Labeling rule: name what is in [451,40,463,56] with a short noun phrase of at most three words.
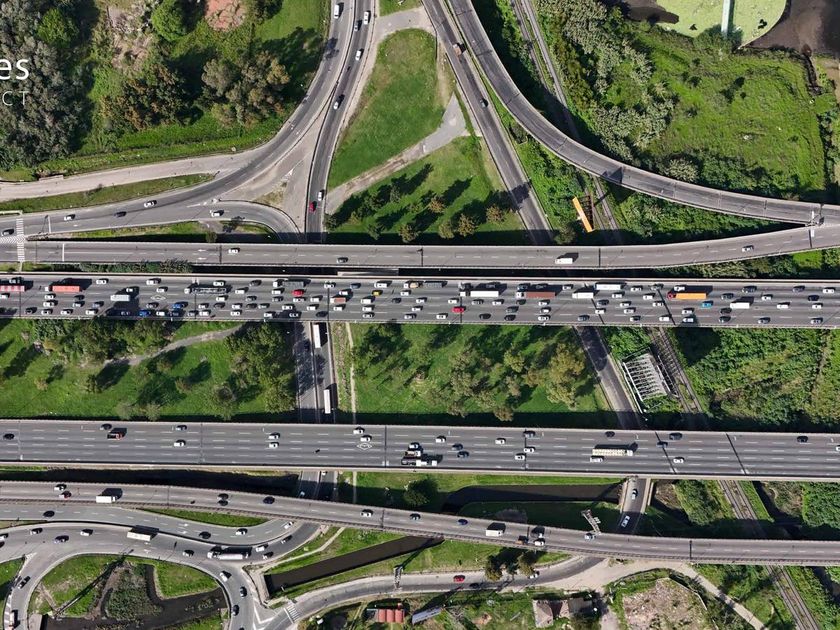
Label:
vehicle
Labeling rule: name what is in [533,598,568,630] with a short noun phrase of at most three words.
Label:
house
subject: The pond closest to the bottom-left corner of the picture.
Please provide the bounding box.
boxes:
[44,562,229,630]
